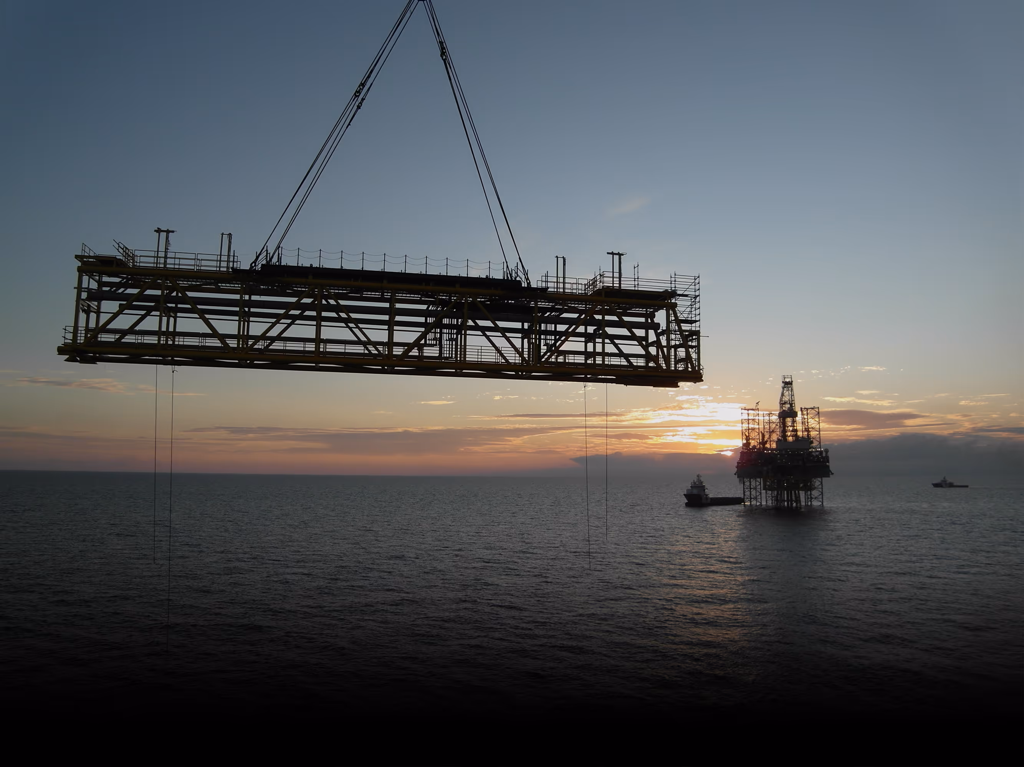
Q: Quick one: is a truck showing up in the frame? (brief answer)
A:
No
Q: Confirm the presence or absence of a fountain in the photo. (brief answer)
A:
No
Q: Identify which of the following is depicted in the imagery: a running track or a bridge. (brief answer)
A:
bridge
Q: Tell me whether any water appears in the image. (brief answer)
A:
Yes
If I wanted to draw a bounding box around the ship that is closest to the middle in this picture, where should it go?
[684,470,747,507]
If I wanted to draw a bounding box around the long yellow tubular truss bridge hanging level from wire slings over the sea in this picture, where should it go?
[56,227,706,388]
